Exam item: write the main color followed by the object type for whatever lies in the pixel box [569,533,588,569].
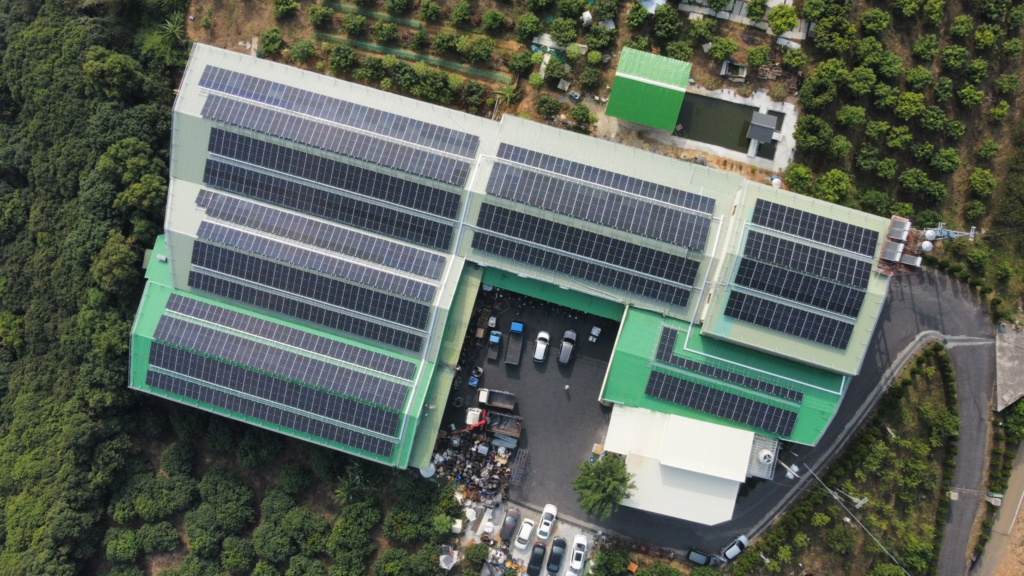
white car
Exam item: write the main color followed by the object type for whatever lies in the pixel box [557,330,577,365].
gray car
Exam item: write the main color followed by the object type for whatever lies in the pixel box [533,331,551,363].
white car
